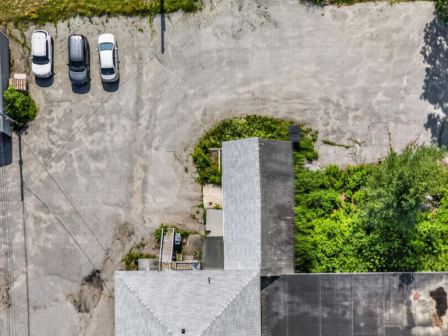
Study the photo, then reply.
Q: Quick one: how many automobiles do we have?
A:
3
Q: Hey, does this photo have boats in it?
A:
No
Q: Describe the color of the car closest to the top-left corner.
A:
white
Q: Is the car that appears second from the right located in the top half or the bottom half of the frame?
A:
top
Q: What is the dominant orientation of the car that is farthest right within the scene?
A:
vertically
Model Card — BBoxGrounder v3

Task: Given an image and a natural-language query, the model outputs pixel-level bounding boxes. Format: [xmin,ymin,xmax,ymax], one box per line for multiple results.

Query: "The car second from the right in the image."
[67,35,92,86]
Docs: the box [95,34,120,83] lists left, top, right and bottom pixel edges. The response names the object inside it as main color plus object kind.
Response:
white car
